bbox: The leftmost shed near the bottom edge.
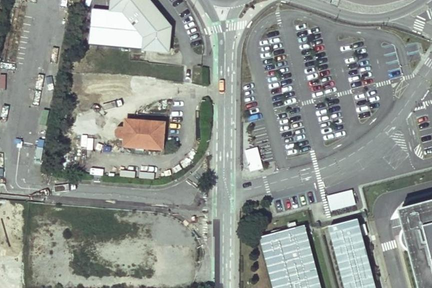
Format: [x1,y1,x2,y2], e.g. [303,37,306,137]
[260,226,320,288]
